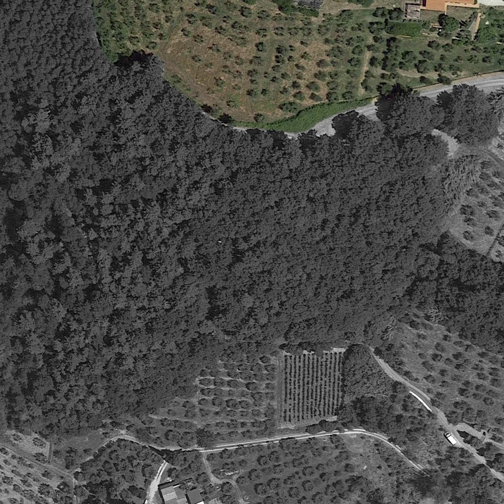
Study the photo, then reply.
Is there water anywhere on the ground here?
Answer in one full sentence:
No, there is no water in the image.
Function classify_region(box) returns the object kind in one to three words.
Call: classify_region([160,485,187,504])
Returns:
house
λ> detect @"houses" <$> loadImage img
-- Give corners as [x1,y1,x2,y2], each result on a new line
[419,0,475,10]
[186,487,204,504]
[160,485,187,504]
